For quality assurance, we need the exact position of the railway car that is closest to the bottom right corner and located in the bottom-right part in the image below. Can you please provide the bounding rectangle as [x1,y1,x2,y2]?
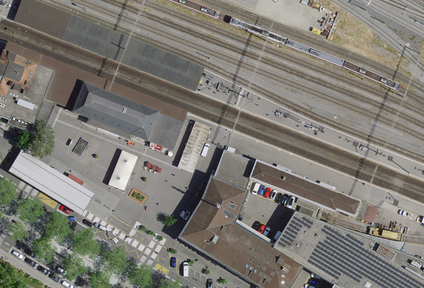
[382,230,402,242]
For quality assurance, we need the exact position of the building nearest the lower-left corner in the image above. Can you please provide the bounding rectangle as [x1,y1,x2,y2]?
[109,150,138,190]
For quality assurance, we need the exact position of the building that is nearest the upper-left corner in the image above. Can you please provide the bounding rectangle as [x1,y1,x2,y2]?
[0,48,54,130]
